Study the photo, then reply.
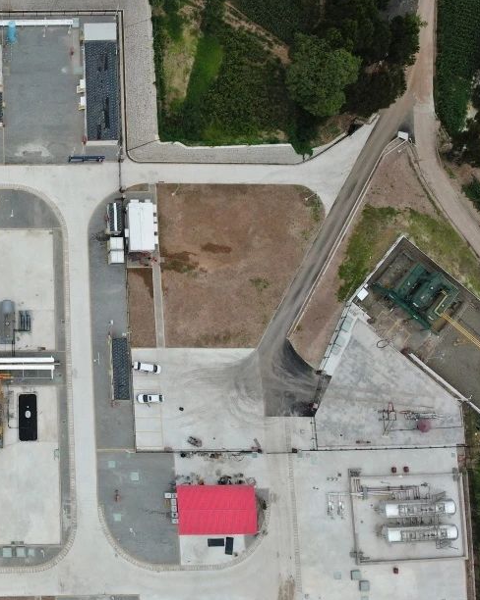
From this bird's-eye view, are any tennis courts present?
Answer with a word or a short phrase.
No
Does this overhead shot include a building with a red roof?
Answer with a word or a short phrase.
Yes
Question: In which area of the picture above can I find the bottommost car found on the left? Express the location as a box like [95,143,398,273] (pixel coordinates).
[136,392,164,405]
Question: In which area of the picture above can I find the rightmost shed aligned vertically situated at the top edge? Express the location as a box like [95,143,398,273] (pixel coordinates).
[82,22,121,146]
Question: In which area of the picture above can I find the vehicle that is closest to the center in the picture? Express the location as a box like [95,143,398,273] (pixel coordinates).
[135,360,162,375]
